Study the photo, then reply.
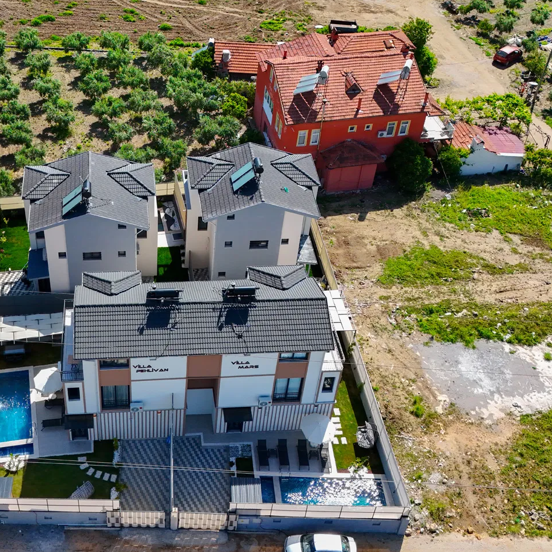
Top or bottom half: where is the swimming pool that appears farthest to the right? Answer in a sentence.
It is in the bottom half that the swimming pool that appears farthest to the right appears.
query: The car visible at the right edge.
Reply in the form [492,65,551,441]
[494,45,525,64]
